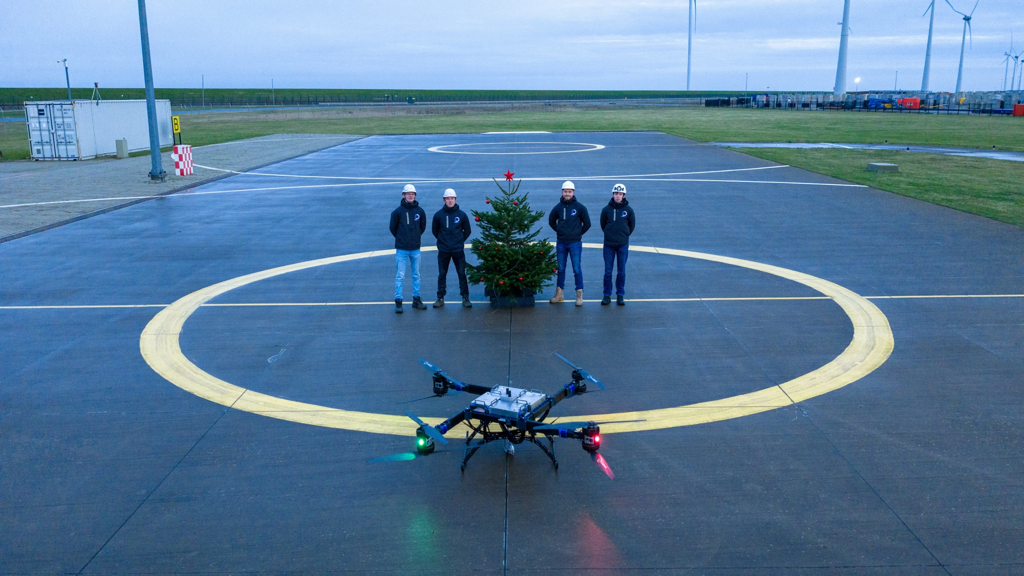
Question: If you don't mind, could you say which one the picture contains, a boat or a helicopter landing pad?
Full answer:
Of the two, only a helicopter landing pad appears.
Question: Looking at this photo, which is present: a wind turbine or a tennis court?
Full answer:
I can see a wind turbine in this picture.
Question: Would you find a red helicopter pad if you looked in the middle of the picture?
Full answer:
No, no red helicopter pad is visible in the middle of the picture.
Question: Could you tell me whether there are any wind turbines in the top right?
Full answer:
Yes, a wind turbine is visible in the top right.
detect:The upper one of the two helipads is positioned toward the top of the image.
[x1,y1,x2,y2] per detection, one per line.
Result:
[161,132,791,179]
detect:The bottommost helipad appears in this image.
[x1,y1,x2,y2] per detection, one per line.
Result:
[0,179,1024,437]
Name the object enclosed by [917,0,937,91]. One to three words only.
wind turbine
